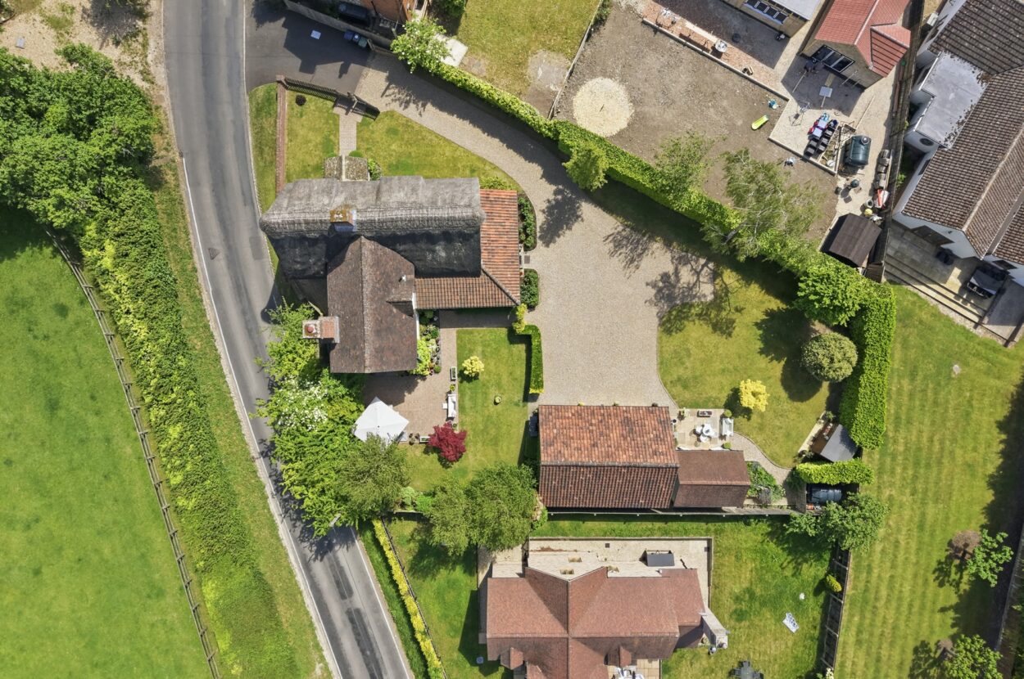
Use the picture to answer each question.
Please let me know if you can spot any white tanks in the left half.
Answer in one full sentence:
No, I see no white tank in the left half.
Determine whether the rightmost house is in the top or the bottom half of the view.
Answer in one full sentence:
The rightmost house is in the top half of the image.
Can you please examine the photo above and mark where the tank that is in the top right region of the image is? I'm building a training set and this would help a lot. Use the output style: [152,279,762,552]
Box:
[842,136,872,170]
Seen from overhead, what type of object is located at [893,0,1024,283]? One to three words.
house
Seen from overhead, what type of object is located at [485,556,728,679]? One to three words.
house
